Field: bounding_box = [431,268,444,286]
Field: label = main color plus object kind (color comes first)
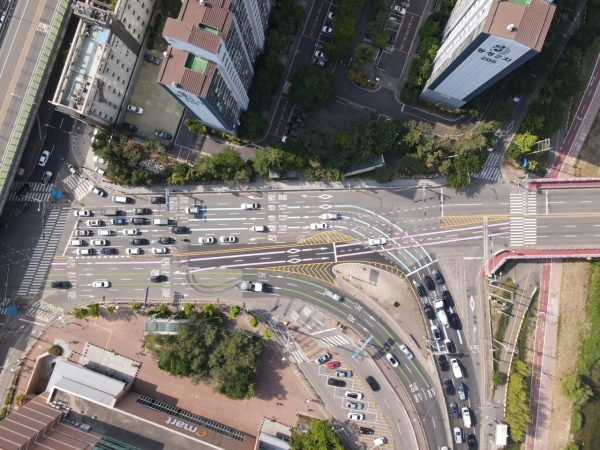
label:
gray vehicle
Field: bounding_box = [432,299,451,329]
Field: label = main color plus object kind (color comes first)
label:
white vehicle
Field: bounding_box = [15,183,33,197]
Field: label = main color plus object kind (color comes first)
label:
black car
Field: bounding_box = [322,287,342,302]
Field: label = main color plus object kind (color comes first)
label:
white vehicle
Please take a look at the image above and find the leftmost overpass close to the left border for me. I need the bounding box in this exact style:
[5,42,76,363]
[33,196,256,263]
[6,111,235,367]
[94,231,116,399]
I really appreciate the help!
[0,0,75,212]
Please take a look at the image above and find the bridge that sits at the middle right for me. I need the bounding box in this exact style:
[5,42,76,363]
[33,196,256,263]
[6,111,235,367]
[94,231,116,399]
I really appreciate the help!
[482,177,600,279]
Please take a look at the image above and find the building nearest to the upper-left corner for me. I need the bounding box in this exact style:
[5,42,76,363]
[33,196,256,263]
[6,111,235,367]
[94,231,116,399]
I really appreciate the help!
[55,0,154,130]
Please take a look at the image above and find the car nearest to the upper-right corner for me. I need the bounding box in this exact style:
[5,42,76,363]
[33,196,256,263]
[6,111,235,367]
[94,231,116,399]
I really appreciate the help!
[509,90,524,107]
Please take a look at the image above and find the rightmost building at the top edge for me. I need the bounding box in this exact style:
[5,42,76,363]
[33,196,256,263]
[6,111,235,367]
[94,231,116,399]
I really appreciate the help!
[420,0,560,110]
